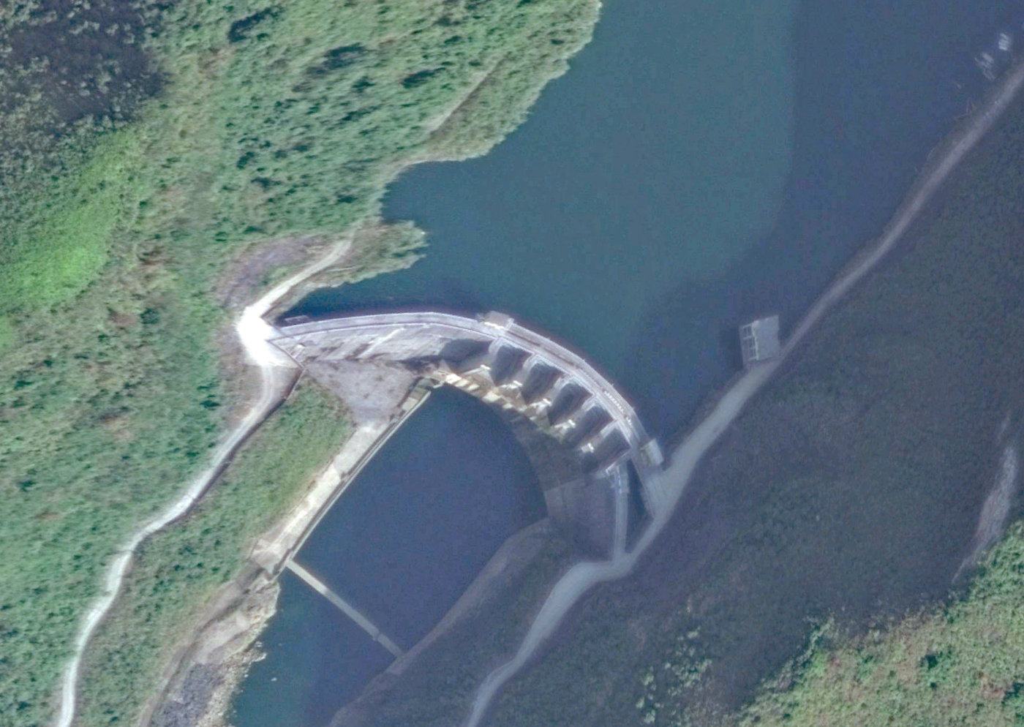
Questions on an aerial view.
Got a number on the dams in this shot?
2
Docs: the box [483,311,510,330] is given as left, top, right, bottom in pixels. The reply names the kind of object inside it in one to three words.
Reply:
building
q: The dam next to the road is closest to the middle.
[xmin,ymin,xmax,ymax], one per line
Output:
[274,312,665,556]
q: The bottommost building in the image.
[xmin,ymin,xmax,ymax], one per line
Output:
[645,439,667,465]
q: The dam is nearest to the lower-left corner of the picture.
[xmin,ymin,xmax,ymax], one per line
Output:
[283,557,404,656]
